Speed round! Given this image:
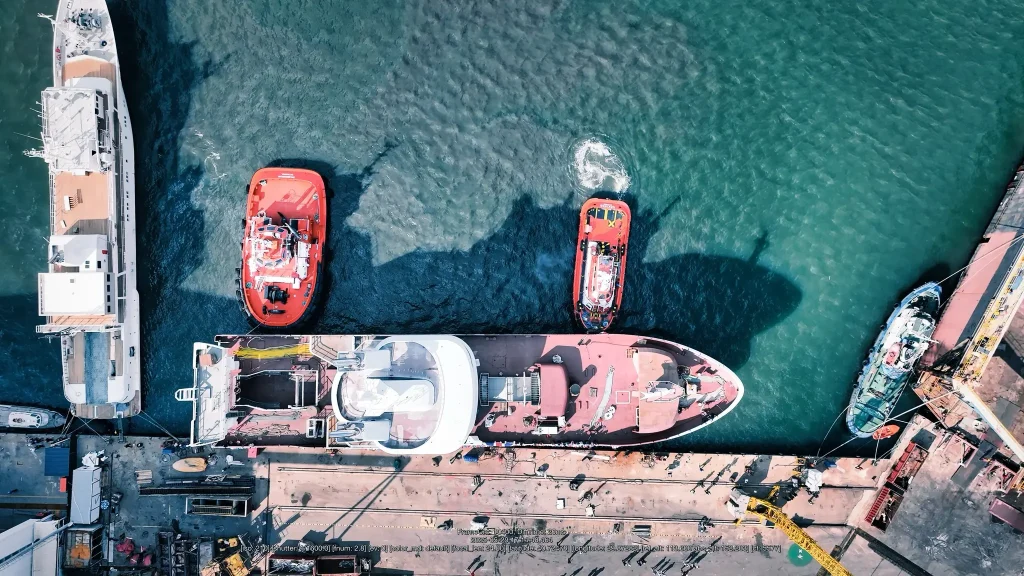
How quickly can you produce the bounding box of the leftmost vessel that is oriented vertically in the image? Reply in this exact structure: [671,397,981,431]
[20,0,148,438]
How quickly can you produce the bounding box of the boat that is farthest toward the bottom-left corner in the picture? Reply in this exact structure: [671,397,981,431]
[0,404,72,428]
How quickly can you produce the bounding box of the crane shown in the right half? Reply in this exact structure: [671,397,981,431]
[724,482,866,576]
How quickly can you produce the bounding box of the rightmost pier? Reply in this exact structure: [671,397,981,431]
[905,167,1024,430]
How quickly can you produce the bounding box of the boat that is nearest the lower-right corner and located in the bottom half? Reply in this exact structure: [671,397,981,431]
[873,425,900,439]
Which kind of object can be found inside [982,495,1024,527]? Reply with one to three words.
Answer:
shipping container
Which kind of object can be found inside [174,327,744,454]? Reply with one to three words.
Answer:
ship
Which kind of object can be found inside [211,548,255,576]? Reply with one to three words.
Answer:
work vehicle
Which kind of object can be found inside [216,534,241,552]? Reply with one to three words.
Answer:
work vehicle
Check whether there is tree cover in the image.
No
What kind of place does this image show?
port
